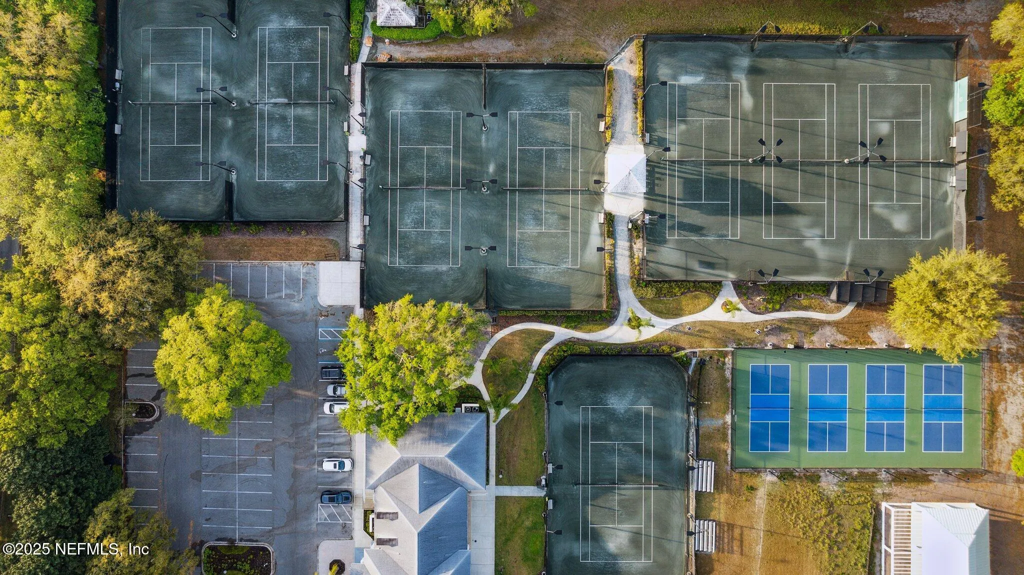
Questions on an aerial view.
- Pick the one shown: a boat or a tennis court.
tennis court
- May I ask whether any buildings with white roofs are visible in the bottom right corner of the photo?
Yes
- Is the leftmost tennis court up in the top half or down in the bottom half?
top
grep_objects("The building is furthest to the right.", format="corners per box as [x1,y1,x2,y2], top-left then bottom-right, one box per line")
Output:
[911,503,989,575]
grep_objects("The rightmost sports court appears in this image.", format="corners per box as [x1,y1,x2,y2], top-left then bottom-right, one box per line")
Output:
[923,364,963,452]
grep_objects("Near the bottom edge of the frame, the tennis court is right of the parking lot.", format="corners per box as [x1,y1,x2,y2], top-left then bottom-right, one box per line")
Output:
[547,356,690,575]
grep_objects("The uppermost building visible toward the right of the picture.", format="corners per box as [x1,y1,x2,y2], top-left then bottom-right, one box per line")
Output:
[606,154,647,193]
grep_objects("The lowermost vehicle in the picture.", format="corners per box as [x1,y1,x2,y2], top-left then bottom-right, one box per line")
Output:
[321,489,352,506]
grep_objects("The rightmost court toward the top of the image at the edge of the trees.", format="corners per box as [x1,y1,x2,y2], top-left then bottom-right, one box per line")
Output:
[847,42,956,281]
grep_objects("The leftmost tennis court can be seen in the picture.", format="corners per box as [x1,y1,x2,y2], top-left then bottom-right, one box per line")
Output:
[118,0,234,220]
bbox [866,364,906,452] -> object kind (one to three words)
sports court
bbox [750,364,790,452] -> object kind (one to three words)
sports court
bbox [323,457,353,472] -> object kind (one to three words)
car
